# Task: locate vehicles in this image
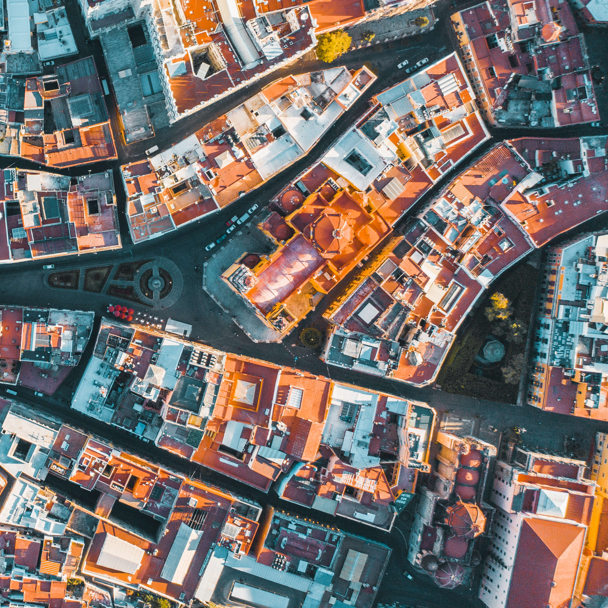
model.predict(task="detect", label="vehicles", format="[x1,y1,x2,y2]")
[206,241,216,249]
[5,387,18,396]
[406,65,417,74]
[402,570,413,581]
[225,225,236,234]
[44,60,55,67]
[101,73,111,99]
[416,58,428,67]
[225,216,238,227]
[247,203,258,213]
[216,234,227,243]
[145,145,158,155]
[396,60,408,68]
[33,390,45,397]
[235,212,252,226]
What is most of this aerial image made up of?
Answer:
buildings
